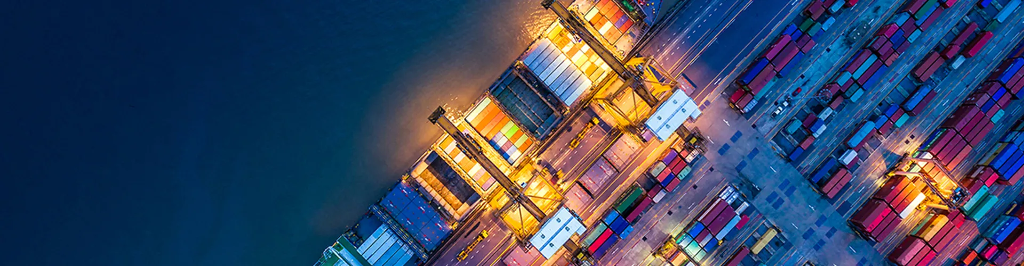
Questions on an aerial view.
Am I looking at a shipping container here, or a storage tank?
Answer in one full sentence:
Of the two, only a shipping container appears.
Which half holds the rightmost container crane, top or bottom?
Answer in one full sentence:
The rightmost container crane sits in the bottom half of the picture.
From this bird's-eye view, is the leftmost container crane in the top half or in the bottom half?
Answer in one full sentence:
The bottom half of the photo is where the leftmost container crane is.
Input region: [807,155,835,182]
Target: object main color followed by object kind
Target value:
blue shipping container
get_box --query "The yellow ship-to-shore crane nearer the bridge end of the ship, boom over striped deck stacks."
[431,104,595,266]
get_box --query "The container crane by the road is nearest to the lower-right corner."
[890,152,970,211]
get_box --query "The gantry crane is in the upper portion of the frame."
[543,0,707,156]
